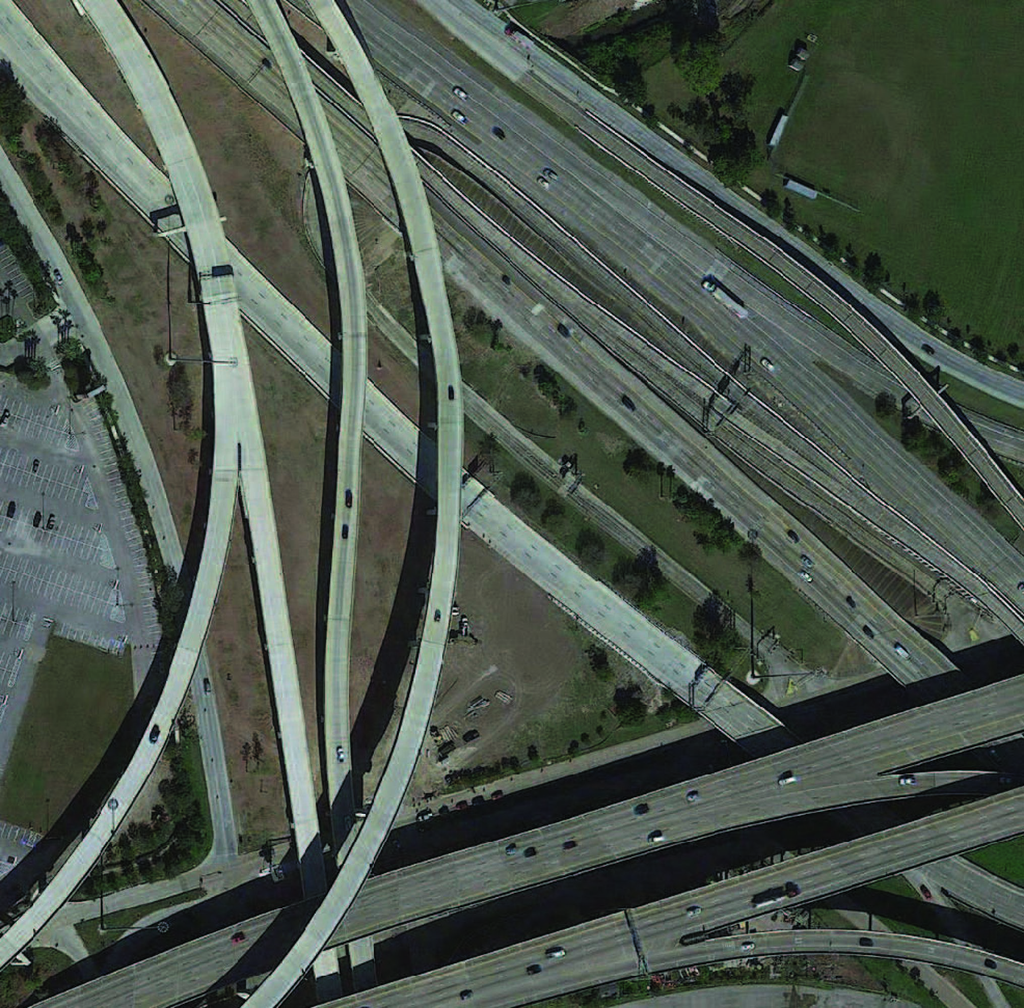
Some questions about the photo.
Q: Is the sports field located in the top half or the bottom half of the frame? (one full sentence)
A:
The sports field is in the top half of the image.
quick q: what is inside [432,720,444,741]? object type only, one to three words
vehicle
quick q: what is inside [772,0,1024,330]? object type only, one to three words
sports field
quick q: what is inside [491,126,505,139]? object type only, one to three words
vehicle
